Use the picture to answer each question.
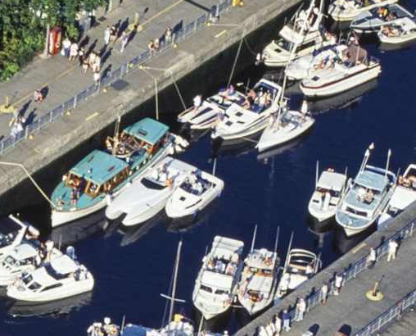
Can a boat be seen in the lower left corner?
Yes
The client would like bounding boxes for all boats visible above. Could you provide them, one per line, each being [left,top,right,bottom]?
[167,175,235,223]
[6,257,103,305]
[341,133,404,243]
[178,90,246,126]
[192,232,252,325]
[52,123,190,225]
[255,42,319,154]
[125,318,161,336]
[300,29,390,97]
[328,0,403,24]
[285,42,353,83]
[0,244,55,286]
[351,6,416,36]
[0,214,52,255]
[90,316,120,336]
[377,155,416,230]
[240,220,292,320]
[276,237,331,303]
[158,265,200,336]
[378,23,416,46]
[211,82,293,143]
[110,159,204,226]
[310,161,348,227]
[261,0,342,72]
